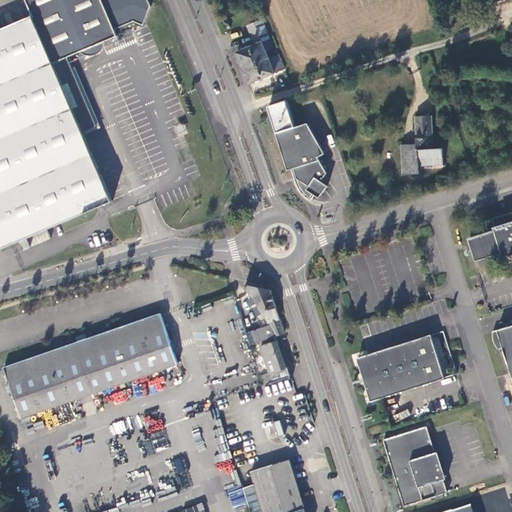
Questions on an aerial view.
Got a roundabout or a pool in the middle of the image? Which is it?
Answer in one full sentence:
You can see a roundabout in the middle of the image.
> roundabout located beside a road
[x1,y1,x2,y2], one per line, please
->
[245,206,313,274]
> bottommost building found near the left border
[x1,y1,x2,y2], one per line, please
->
[5,313,178,418]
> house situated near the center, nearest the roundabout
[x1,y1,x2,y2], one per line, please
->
[246,268,273,291]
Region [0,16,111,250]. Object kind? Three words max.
warehouse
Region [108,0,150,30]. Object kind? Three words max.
building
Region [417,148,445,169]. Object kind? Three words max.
barn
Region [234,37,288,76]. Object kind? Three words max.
house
